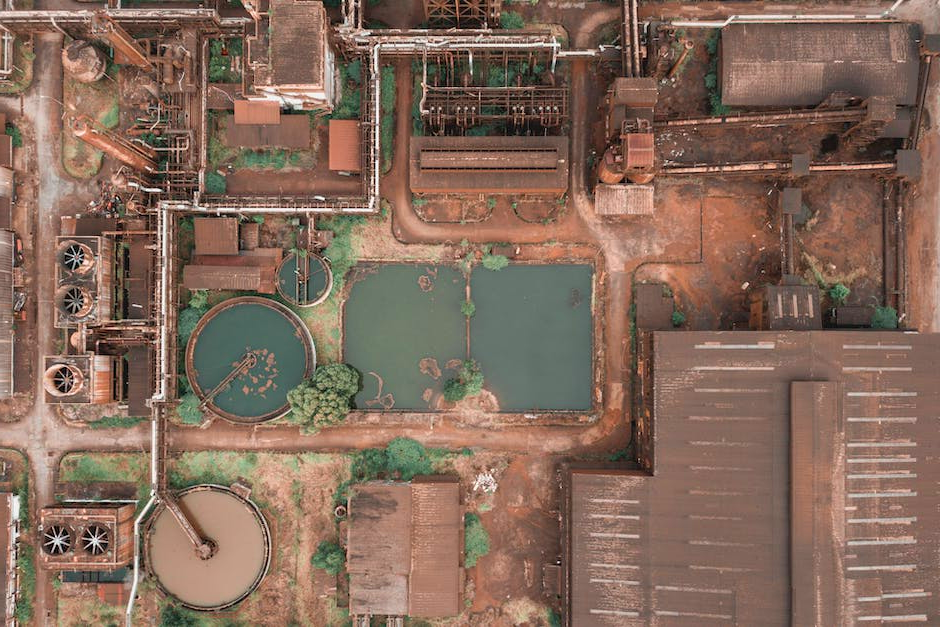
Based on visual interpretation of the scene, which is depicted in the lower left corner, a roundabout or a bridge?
bridge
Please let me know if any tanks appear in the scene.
Yes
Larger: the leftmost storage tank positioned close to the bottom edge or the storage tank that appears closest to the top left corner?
the leftmost storage tank positioned close to the bottom edge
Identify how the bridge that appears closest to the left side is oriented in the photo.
on a diagonal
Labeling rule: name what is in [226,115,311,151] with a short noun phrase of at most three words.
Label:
shed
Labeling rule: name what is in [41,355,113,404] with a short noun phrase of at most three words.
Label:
cooling tower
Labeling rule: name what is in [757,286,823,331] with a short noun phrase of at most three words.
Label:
house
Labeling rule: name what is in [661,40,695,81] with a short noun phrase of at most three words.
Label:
chimney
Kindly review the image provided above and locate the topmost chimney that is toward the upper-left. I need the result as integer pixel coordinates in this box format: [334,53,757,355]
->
[71,117,157,171]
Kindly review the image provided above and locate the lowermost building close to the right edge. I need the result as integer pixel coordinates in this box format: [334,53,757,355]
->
[636,333,940,627]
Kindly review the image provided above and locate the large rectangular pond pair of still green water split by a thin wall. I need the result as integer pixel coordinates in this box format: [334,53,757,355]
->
[341,260,596,413]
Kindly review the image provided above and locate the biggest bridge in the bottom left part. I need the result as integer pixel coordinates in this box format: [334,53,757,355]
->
[156,489,210,553]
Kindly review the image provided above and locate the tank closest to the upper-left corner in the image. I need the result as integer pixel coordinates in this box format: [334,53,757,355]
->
[62,39,111,85]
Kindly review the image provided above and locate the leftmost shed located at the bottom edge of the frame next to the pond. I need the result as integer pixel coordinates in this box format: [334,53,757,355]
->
[348,480,411,617]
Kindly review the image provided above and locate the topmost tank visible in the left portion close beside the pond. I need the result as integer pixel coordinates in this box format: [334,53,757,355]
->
[275,219,336,308]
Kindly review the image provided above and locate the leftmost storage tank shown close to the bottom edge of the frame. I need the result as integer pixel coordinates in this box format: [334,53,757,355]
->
[144,478,275,612]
